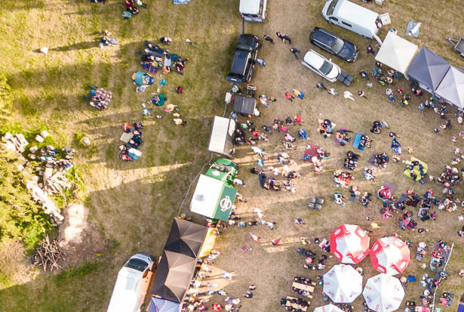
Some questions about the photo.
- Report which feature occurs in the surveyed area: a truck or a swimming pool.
truck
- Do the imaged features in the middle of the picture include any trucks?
Yes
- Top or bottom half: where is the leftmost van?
bottom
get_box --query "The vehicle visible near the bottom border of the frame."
[109,254,161,312]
